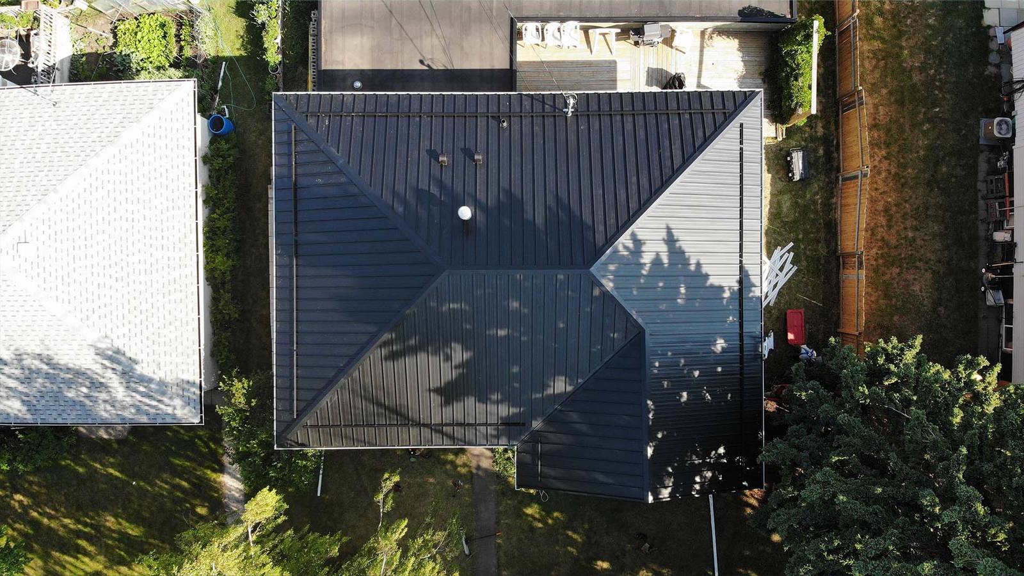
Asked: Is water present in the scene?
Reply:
No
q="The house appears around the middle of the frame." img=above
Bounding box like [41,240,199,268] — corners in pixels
[271,88,769,504]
